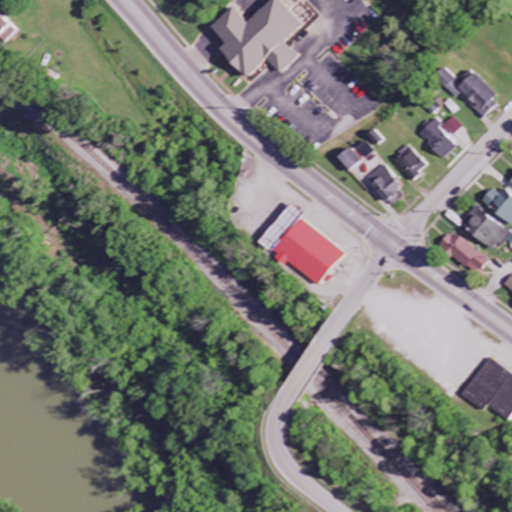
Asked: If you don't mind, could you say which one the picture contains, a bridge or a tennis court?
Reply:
bridge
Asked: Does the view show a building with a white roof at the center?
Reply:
Yes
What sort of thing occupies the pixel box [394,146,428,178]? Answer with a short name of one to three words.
house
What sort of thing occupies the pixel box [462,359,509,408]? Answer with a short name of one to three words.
building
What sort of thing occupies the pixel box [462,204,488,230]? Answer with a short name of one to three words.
house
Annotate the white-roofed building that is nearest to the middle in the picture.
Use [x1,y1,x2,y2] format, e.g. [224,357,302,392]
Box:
[260,206,304,249]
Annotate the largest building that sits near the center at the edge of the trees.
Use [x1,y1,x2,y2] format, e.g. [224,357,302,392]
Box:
[272,218,343,284]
